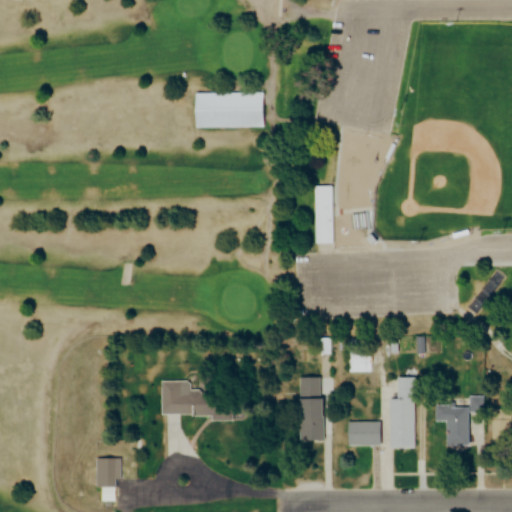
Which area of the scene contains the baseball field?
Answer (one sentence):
Look in the top right portion of the view to spot the baseball field.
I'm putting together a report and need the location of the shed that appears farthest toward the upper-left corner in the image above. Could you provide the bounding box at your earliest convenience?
[196,92,264,128]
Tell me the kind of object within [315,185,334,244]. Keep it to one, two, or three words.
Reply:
building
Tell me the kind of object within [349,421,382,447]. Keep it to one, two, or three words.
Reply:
house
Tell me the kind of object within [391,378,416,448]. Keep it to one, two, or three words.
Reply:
house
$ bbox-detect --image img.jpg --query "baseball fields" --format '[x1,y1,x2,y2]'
[376,22,512,240]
